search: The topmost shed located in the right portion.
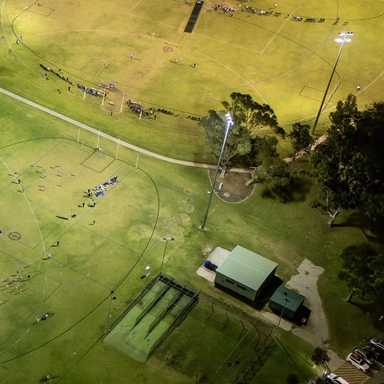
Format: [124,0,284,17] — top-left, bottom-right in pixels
[214,245,277,301]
